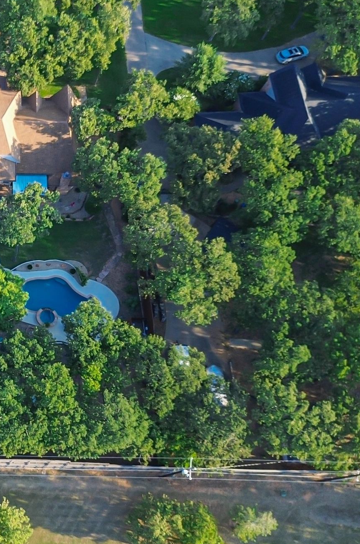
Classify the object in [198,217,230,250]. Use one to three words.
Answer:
shed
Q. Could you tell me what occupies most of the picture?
trees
